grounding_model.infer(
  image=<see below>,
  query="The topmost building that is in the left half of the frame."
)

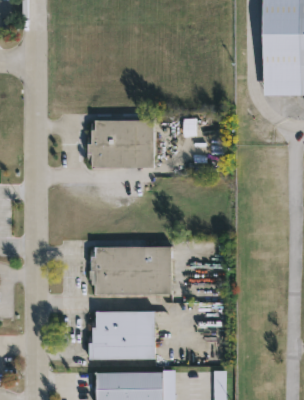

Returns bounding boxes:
[88,120,156,168]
